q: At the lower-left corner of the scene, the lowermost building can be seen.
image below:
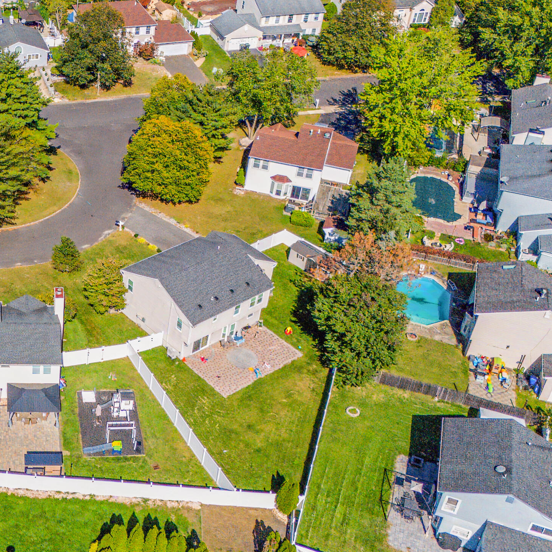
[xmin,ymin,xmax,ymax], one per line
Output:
[23,443,65,474]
